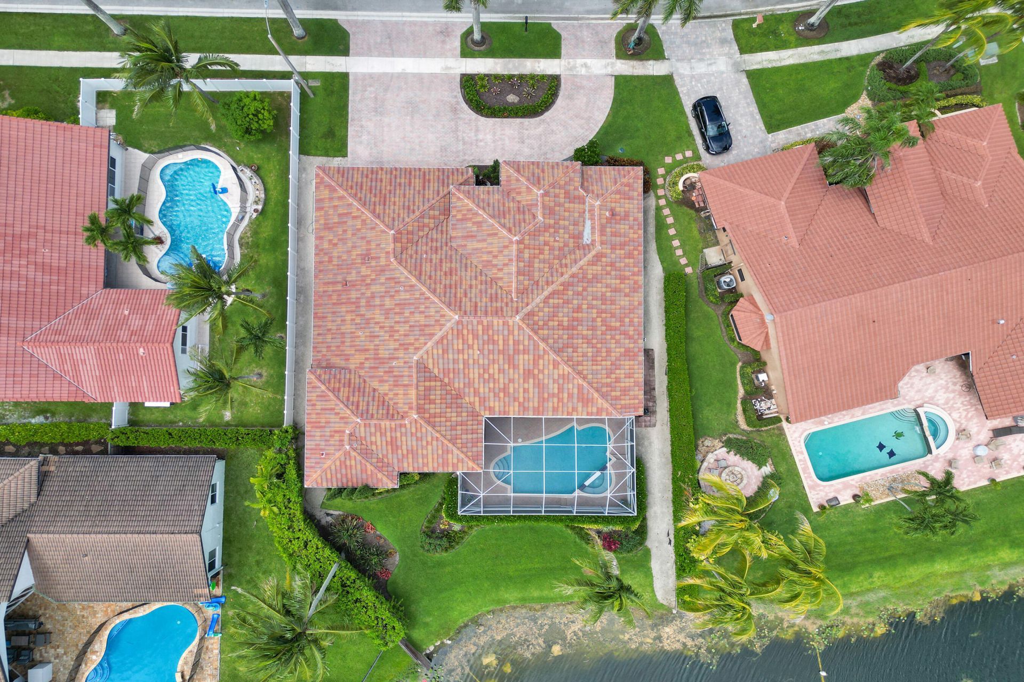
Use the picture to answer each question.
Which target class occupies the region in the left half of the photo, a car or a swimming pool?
swimming pool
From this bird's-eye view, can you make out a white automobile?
No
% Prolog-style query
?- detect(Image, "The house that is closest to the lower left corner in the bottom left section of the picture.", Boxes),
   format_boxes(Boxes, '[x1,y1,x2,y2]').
[0,452,225,682]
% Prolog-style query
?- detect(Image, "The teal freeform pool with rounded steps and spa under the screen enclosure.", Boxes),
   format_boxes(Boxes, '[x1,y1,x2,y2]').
[462,416,629,505]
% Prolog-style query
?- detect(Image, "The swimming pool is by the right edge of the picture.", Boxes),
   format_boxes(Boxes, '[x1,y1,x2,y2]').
[781,356,1024,514]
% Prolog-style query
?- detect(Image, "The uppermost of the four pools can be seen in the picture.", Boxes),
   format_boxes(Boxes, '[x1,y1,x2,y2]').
[118,142,252,376]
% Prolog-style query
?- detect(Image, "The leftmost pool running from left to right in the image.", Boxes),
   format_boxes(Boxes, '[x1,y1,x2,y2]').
[9,584,222,682]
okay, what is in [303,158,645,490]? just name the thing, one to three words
house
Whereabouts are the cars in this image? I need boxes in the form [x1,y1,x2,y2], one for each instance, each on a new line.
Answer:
[691,90,732,158]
